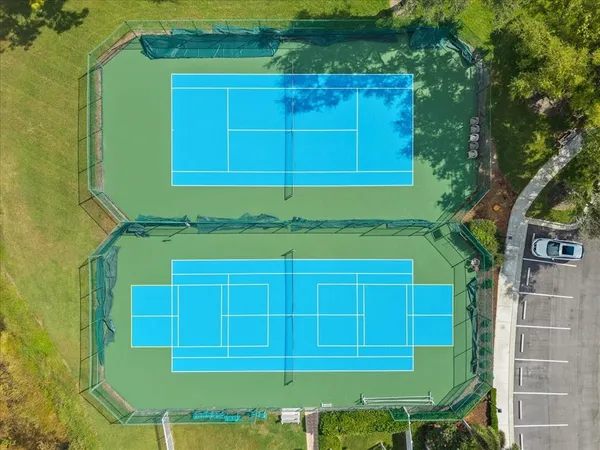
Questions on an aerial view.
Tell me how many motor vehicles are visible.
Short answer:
1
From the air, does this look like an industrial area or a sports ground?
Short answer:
sports ground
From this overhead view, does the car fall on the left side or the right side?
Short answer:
right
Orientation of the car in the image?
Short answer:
horizontally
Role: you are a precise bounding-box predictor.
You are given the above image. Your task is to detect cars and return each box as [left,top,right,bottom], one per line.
[531,237,584,261]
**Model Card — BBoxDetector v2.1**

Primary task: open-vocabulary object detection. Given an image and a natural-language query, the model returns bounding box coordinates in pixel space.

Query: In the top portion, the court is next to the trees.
[104,36,477,223]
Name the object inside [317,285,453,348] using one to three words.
sports court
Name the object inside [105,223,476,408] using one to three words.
tennis court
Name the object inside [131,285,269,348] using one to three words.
sports court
